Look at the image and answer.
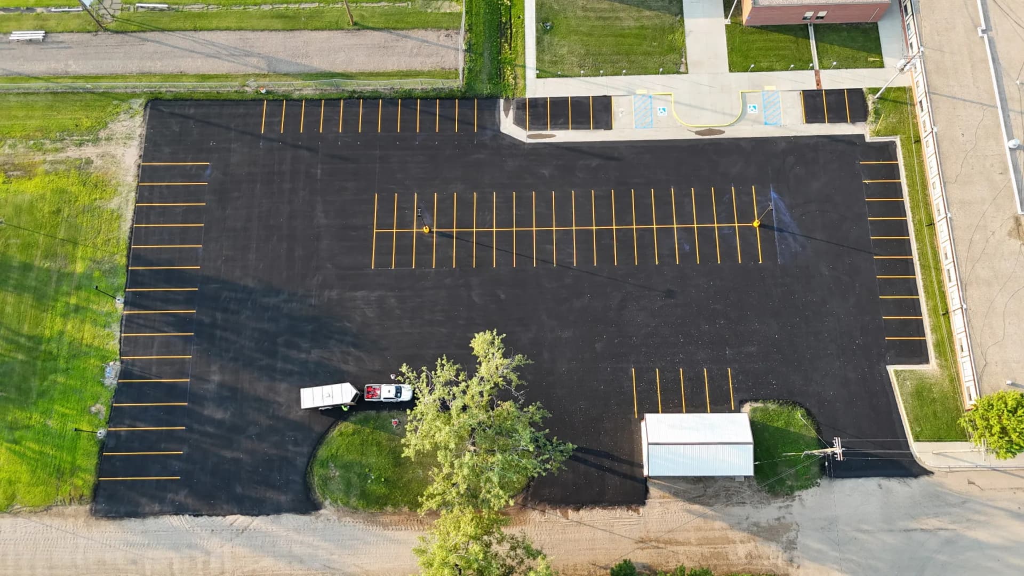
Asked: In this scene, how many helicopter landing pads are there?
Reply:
none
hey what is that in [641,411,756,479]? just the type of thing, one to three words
shed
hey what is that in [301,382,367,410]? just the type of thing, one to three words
trailer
